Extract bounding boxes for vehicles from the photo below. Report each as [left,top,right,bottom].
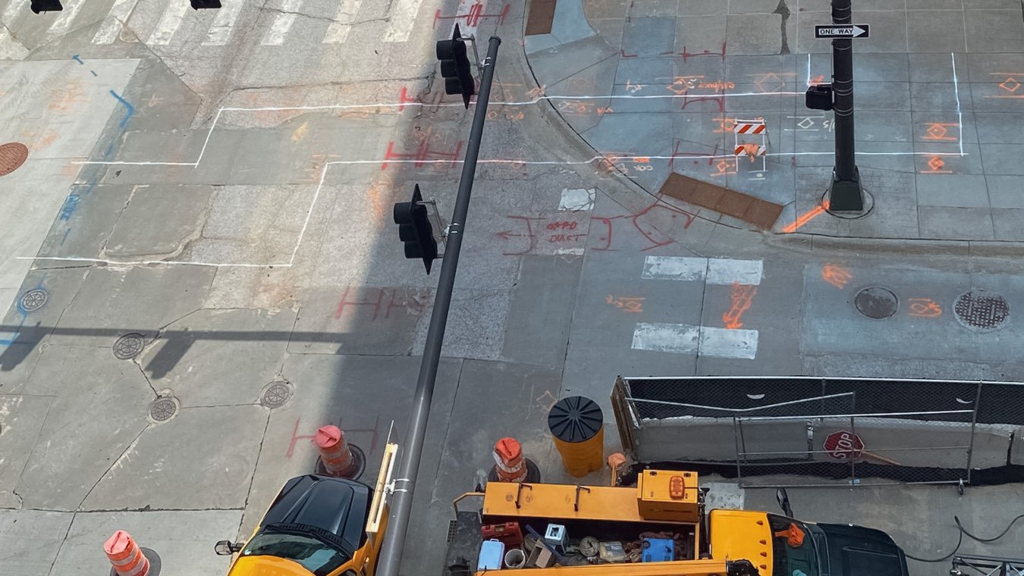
[435,471,921,576]
[214,468,395,576]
